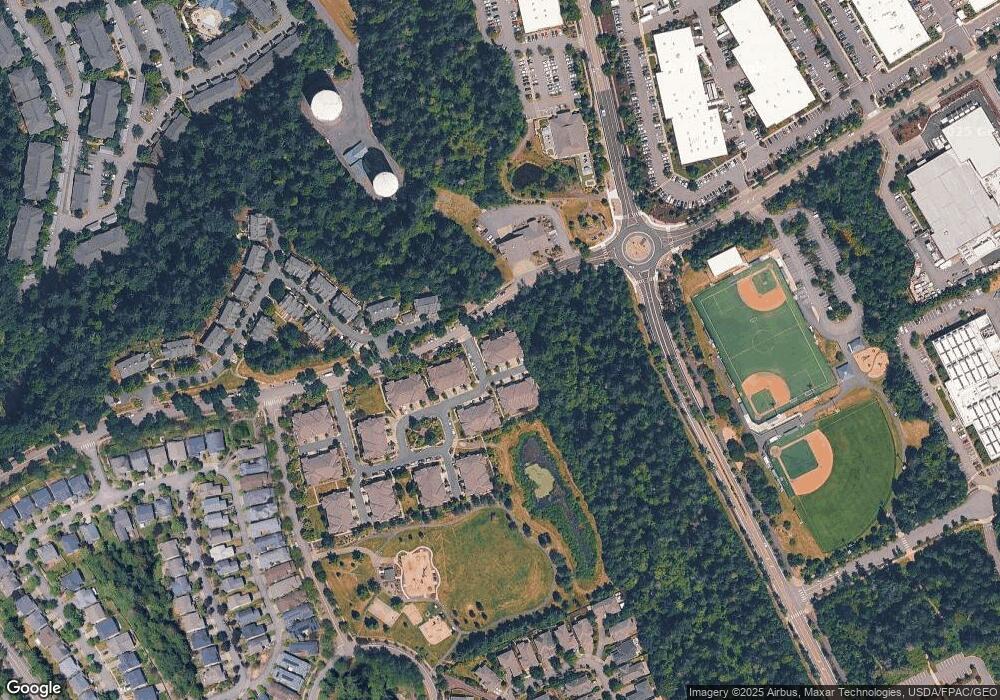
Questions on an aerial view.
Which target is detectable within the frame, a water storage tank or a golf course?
water storage tank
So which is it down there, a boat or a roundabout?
roundabout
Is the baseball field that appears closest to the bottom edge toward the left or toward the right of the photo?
right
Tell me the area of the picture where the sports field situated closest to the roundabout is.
right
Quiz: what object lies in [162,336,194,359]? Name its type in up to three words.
house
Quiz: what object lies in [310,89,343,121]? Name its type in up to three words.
water tank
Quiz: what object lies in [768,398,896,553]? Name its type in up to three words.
baseball field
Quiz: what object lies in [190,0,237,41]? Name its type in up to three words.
swimming pool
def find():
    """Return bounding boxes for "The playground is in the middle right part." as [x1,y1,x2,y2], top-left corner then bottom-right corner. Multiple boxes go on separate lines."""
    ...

[854,347,889,378]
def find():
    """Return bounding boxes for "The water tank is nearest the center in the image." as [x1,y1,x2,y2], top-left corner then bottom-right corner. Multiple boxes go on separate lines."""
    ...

[372,171,399,197]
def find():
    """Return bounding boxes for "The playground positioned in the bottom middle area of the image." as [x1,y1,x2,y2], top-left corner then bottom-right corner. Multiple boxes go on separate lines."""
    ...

[397,547,440,599]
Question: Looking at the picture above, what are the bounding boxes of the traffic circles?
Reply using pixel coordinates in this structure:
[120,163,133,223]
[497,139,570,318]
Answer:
[611,221,666,275]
